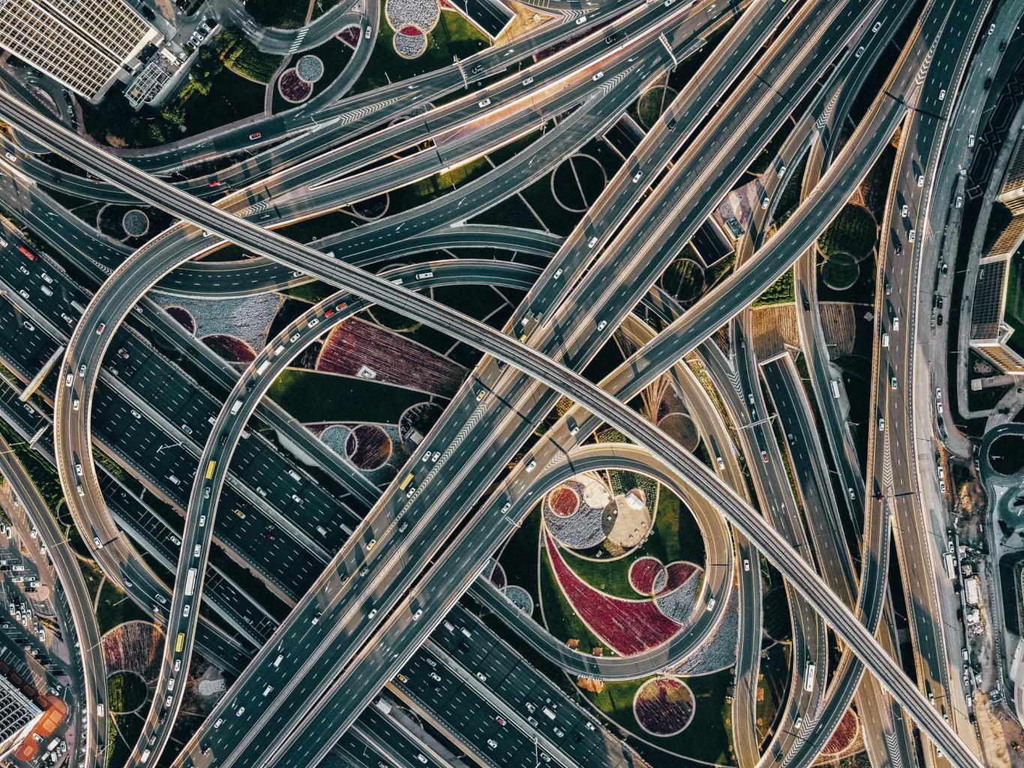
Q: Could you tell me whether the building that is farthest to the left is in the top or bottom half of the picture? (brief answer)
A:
bottom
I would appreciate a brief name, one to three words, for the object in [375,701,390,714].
vehicle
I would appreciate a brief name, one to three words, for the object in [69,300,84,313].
vehicle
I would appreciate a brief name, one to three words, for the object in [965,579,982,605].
building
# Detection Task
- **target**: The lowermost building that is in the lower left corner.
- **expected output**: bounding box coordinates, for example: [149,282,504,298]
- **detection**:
[0,660,58,756]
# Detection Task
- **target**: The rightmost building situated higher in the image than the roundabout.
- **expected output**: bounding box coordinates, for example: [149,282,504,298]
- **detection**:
[958,127,1024,376]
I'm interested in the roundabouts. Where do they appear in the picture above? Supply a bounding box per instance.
[977,423,1024,485]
